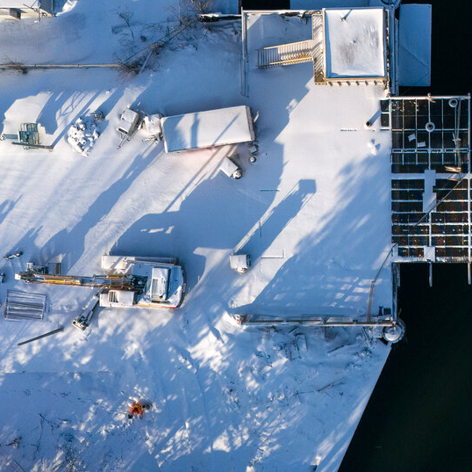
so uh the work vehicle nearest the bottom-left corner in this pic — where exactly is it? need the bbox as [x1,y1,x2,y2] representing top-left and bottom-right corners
[13,255,192,310]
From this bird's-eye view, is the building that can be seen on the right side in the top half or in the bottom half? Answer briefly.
top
